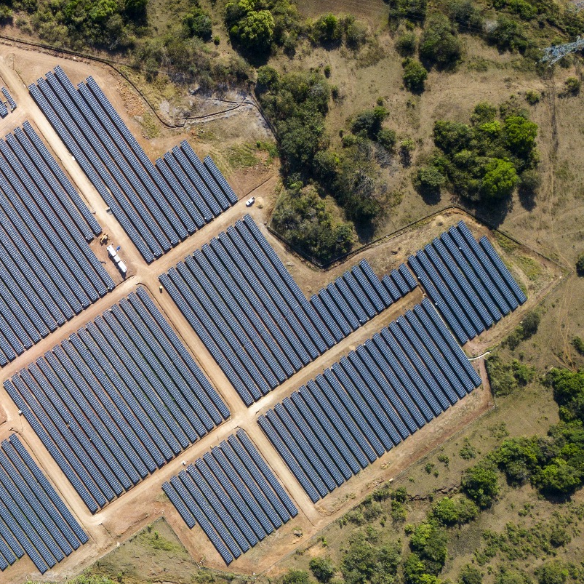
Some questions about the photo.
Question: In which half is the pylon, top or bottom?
top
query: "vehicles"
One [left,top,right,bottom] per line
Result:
[244,198,256,207]
[99,233,109,243]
